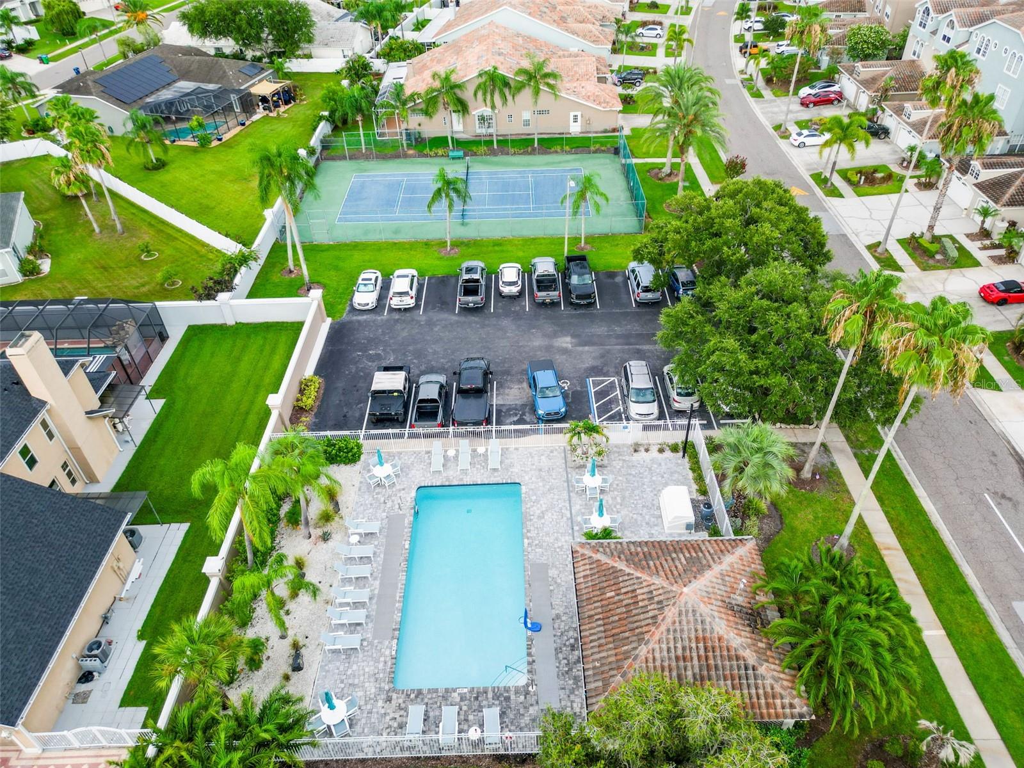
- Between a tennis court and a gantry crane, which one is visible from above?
tennis court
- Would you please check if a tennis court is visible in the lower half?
No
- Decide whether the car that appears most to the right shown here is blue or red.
red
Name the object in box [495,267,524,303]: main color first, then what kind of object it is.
white car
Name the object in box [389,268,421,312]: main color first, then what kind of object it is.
white car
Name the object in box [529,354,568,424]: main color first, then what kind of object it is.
blue truck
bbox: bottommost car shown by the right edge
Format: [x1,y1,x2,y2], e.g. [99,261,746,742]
[973,280,1024,309]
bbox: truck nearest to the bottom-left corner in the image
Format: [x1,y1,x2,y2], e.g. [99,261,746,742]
[405,369,447,437]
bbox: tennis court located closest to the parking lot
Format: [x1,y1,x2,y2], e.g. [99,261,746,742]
[301,153,643,242]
